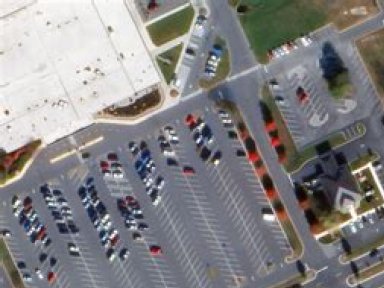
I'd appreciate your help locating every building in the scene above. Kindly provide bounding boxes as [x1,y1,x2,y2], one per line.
[0,0,160,155]
[316,150,361,213]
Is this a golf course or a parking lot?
parking lot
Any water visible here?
No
